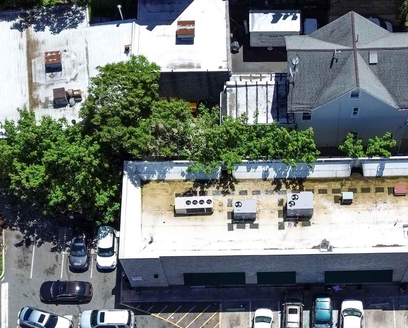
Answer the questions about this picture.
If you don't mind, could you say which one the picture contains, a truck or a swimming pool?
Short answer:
truck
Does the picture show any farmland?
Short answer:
No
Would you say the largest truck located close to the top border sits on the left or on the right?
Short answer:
right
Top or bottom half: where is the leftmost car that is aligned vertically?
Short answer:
bottom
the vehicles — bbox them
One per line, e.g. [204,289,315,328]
[65,219,91,275]
[338,299,365,328]
[249,307,275,328]
[247,10,318,53]
[309,296,335,328]
[38,278,93,304]
[78,308,136,328]
[92,224,119,274]
[279,293,306,328]
[15,307,75,328]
